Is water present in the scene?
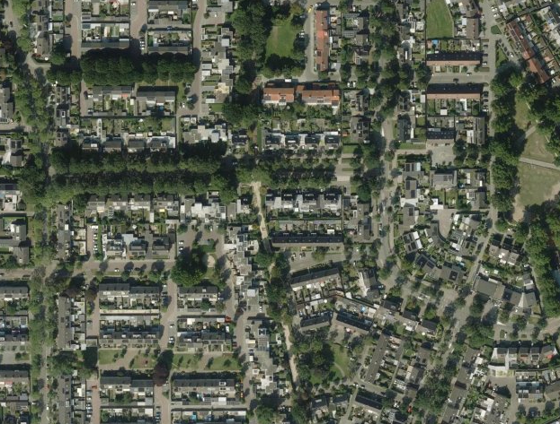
No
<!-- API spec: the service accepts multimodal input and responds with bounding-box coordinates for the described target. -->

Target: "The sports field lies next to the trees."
[520,165,560,205]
